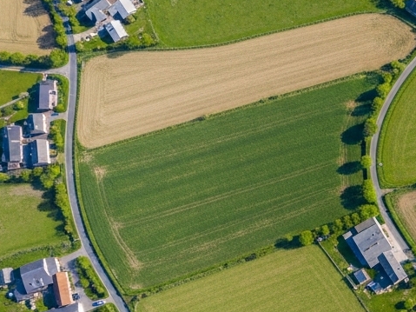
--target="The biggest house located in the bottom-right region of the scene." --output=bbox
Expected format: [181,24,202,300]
[343,218,410,286]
